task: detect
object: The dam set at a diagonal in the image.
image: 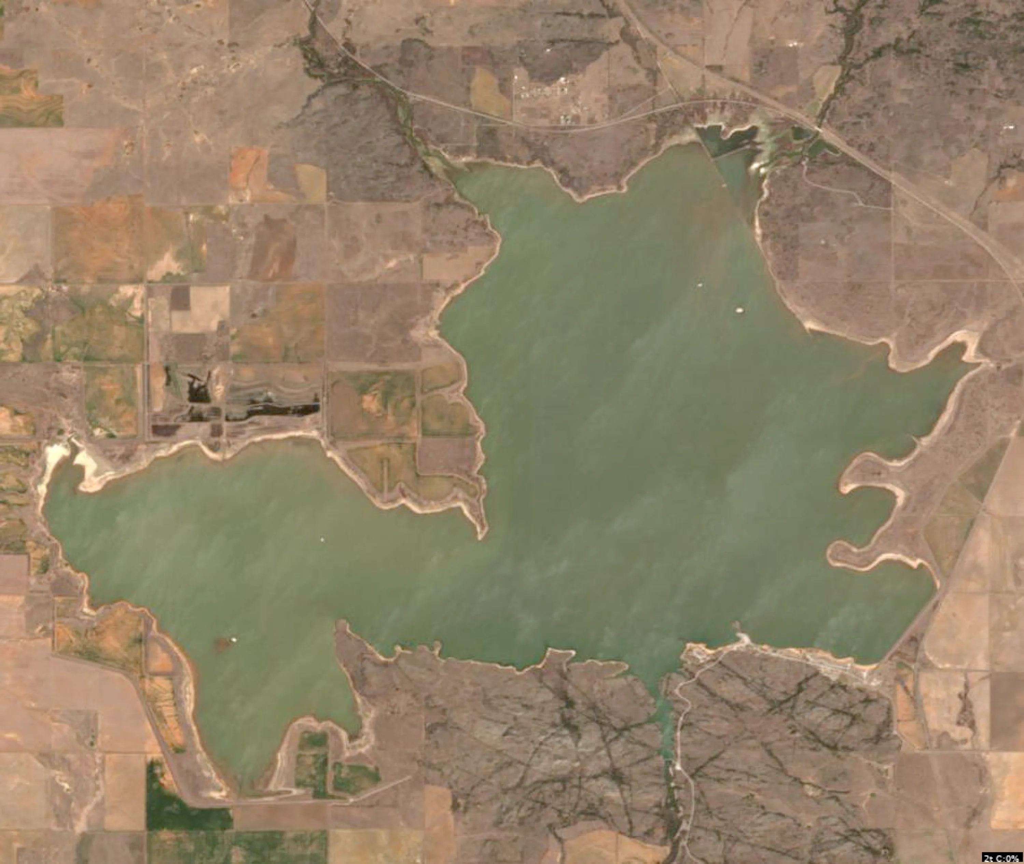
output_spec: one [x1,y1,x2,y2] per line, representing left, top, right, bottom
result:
[878,578,949,665]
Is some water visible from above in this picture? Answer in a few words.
Yes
